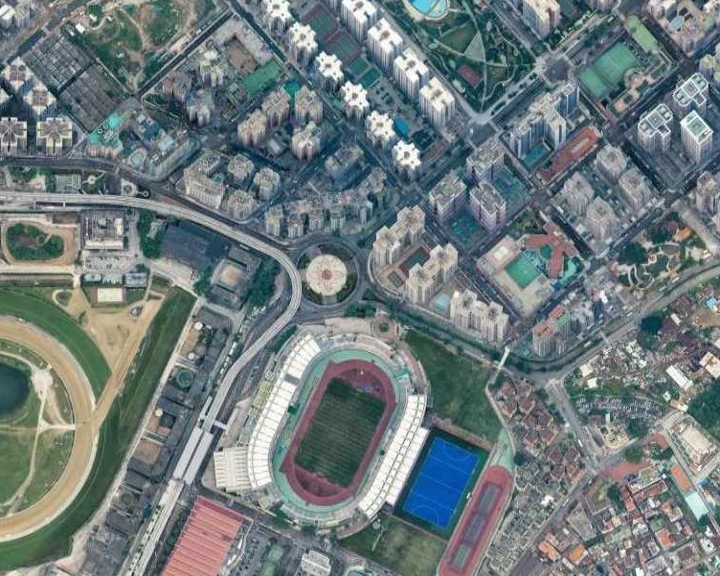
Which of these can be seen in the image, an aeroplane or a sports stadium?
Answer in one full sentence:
This aerial view contains a sports stadium.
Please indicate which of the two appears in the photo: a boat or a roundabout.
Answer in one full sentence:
Visible in the photo is a roundabout.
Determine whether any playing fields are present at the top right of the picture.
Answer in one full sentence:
Yes, you'll find a playing field at the top right of the picture.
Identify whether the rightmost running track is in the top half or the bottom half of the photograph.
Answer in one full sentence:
The rightmost running track sits in the bottom half of the picture.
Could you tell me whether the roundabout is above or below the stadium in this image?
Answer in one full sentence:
The roundabout is located above the stadium in this view.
